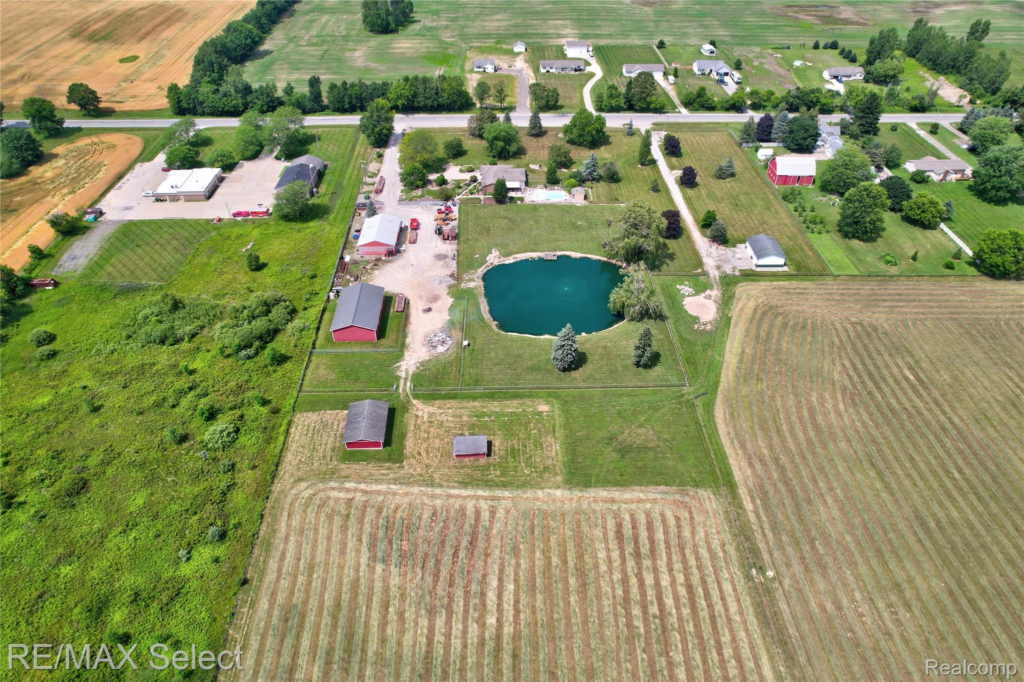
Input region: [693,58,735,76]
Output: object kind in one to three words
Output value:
house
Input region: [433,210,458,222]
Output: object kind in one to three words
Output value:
vehicle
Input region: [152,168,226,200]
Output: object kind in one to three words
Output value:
building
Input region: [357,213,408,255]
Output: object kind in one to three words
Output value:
barn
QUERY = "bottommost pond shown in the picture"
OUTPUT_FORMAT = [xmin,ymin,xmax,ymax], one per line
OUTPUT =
[482,254,631,337]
